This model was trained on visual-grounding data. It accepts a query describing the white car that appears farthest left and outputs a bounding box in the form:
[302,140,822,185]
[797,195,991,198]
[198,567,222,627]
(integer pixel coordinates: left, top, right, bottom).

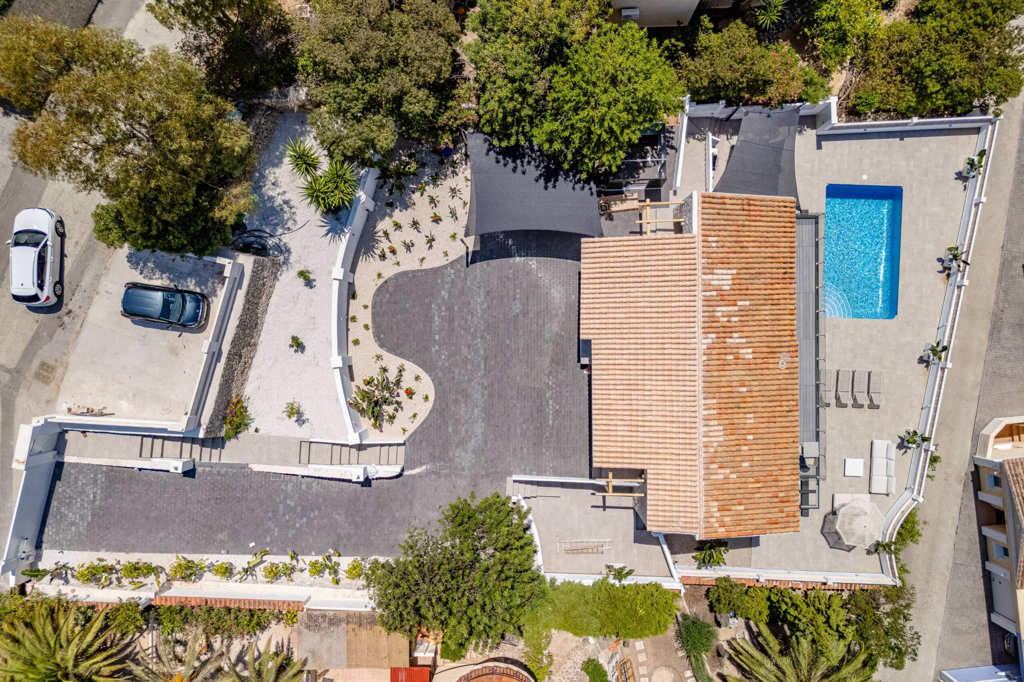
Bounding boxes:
[2,205,66,307]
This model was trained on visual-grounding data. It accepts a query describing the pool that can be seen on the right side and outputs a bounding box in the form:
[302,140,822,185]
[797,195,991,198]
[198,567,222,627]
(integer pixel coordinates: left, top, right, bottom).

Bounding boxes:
[822,184,903,319]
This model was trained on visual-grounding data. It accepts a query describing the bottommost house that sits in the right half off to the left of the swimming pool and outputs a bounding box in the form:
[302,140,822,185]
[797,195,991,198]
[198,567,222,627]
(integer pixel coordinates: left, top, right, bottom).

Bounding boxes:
[578,191,818,541]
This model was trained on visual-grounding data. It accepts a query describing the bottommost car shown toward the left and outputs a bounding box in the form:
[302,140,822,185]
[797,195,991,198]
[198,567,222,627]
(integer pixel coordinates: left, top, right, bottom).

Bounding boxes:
[120,277,216,328]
